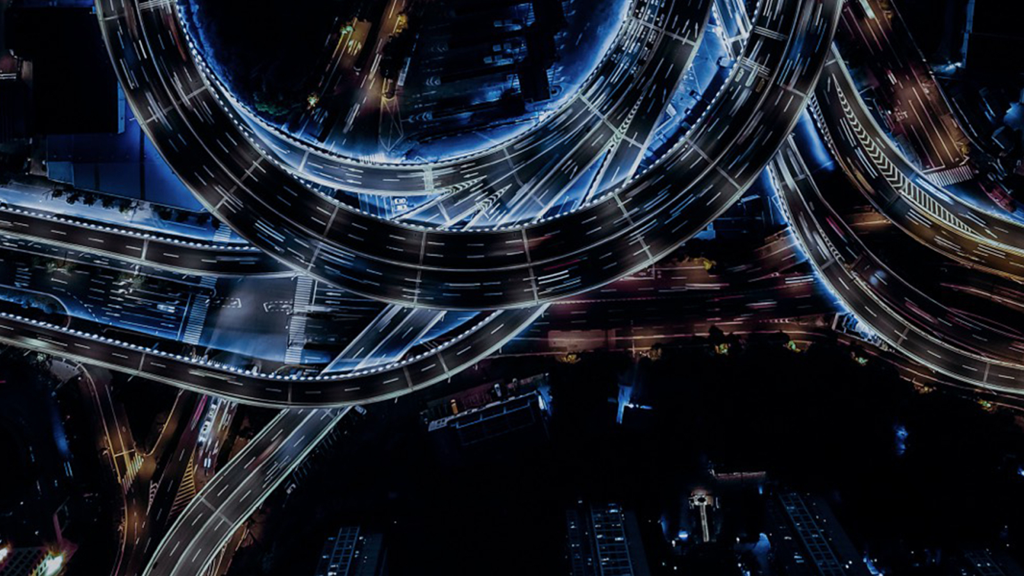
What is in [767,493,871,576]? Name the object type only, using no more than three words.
building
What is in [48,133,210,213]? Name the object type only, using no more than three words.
building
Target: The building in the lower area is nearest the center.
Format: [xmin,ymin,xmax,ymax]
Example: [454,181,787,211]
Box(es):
[458,399,543,449]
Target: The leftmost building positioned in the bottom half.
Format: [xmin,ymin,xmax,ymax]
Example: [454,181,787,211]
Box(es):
[313,527,381,576]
